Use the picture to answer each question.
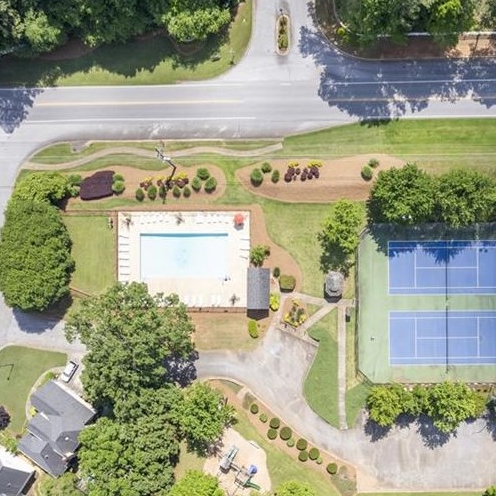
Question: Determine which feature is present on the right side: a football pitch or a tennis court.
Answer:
tennis court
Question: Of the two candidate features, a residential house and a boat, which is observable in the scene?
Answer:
residential house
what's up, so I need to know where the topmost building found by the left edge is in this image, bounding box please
[17,380,101,471]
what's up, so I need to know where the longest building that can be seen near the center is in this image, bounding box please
[247,267,268,309]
